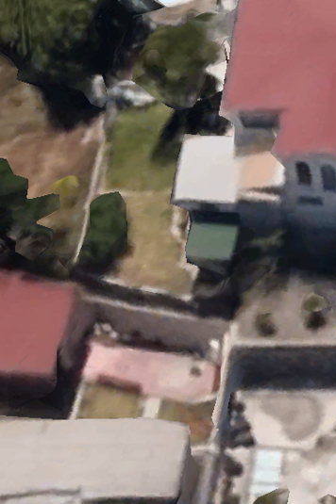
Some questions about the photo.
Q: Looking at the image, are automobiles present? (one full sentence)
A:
No, the photo shows no automobile.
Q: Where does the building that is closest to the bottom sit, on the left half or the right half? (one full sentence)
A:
It is on the left.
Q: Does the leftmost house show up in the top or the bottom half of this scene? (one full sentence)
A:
The bottom half of the photo is where the leftmost house is.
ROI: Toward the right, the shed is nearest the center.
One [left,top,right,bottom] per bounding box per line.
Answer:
[187,224,242,274]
